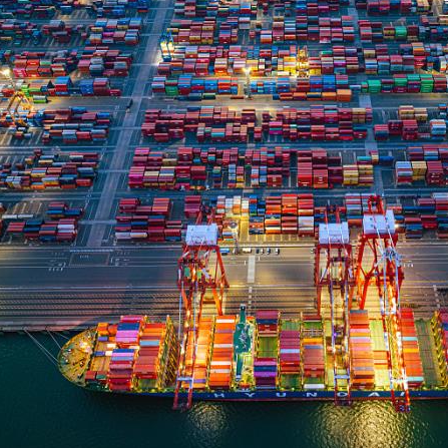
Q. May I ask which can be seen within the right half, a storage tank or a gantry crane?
gantry crane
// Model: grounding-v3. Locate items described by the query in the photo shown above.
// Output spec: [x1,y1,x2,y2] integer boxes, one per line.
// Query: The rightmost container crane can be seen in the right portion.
[352,194,412,408]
